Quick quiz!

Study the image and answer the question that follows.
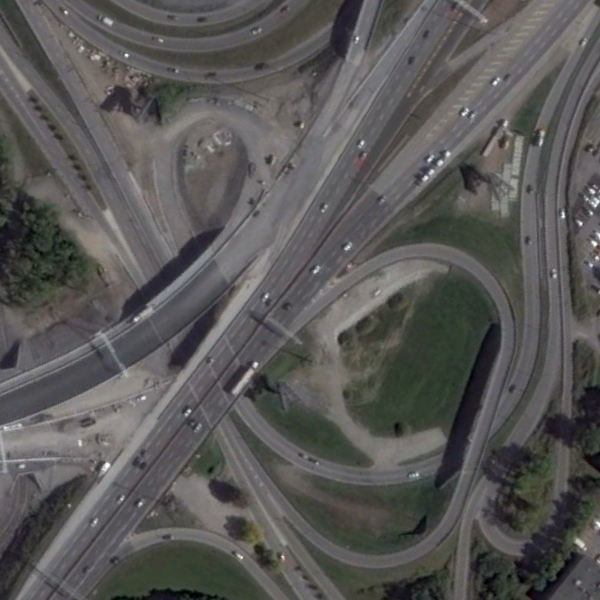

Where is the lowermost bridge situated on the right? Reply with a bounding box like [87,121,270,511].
[449,319,516,526]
